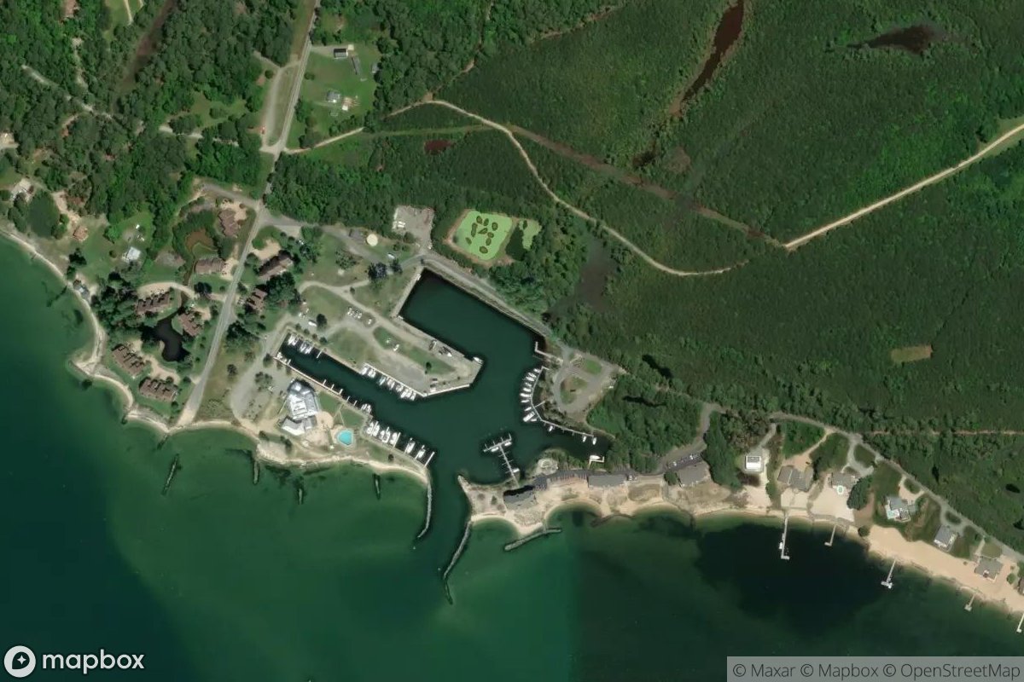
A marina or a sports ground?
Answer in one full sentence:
This image shows a marina.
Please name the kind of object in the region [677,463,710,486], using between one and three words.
building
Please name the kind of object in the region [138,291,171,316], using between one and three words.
house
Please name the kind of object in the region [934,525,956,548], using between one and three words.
house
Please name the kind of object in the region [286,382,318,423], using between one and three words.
building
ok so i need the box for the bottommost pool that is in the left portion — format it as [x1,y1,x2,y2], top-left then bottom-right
[336,428,354,446]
